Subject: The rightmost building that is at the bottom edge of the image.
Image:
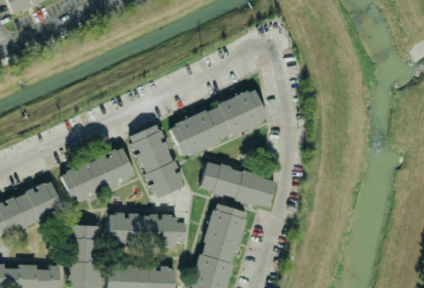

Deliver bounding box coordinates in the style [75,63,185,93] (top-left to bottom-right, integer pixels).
[190,204,246,288]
